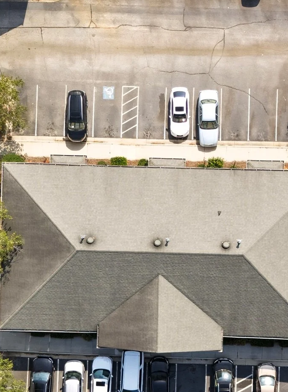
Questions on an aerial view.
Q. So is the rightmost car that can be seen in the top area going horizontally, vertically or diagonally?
vertically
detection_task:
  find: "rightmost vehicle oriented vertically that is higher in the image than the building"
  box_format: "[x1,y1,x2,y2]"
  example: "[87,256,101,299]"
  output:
[197,89,221,147]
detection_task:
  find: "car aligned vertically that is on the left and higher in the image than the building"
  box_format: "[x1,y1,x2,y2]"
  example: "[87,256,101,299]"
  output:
[63,89,89,143]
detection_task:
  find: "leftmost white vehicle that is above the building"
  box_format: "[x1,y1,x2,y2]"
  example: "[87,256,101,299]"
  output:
[168,86,192,138]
